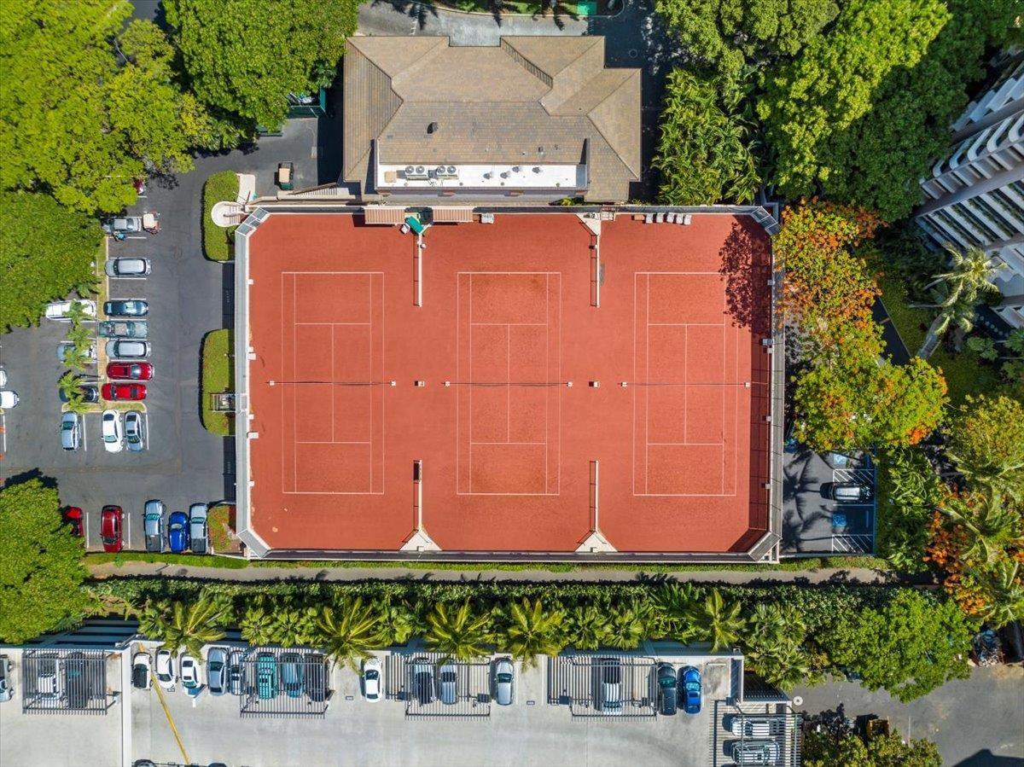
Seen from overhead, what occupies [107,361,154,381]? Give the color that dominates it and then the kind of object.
red car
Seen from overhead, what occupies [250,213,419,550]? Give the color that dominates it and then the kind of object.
red tennis court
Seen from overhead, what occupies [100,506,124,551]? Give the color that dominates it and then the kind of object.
red car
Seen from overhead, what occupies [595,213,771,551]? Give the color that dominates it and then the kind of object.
red tennis court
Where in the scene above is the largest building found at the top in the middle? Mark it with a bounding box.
[343,35,642,210]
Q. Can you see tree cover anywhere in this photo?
Yes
